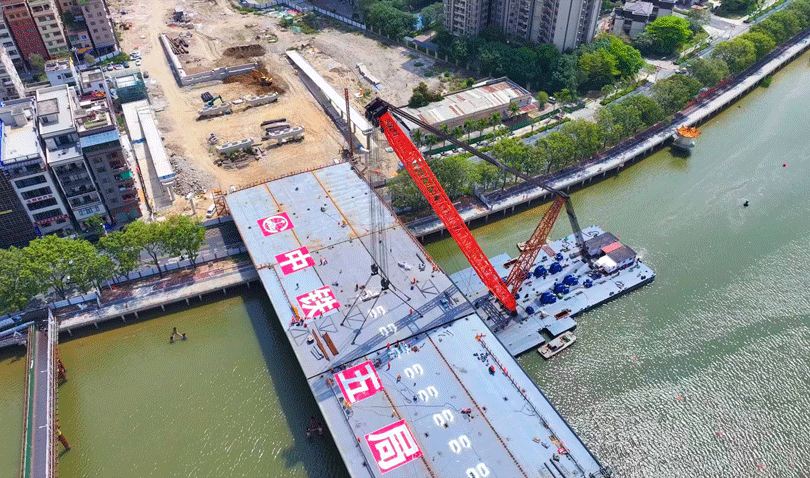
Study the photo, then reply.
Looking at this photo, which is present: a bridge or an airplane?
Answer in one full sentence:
There is a bridge in the scene.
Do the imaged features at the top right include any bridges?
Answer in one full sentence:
No, I see no bridge at the top right.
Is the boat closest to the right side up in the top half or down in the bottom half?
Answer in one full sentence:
Seen from above, the boat closest to the right side lies in the top half of the view.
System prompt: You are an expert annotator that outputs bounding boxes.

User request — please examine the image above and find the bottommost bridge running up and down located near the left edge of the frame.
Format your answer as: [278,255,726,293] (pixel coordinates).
[19,309,81,478]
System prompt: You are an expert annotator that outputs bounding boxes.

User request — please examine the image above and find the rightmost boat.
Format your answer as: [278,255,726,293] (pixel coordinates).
[670,131,701,154]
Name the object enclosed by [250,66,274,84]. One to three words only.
work vehicle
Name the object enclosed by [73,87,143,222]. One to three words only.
house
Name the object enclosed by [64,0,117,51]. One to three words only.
building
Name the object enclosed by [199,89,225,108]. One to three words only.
work vehicle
